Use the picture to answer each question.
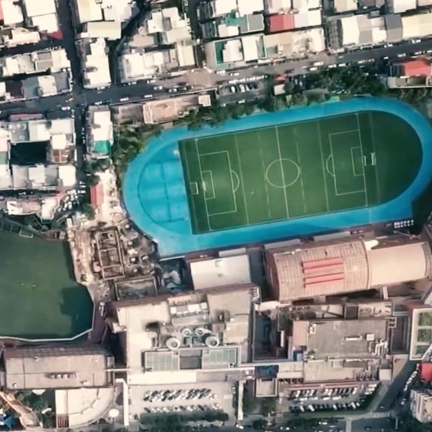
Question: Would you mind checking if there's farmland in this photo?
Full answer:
No, the picture contains no farmland.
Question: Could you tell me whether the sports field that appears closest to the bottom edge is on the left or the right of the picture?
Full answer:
The sports field that appears closest to the bottom edge is on the left side of the image.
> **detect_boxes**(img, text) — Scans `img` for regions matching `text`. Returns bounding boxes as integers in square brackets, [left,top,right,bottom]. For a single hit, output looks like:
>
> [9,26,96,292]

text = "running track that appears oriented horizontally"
[123,97,432,256]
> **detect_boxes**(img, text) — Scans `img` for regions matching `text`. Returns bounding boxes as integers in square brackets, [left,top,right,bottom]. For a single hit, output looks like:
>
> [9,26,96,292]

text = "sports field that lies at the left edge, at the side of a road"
[0,228,93,341]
